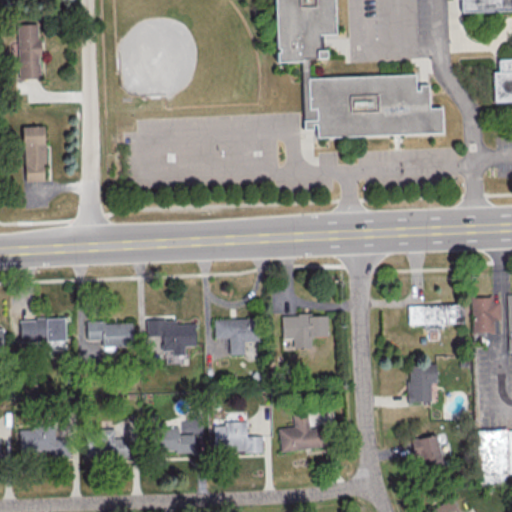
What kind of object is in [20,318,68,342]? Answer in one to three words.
house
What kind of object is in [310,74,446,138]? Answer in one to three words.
building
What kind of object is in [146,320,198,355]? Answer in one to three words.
house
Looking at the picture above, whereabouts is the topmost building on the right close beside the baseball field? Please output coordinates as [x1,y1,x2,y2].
[278,0,337,62]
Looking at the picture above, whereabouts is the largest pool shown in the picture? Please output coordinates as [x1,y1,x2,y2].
[443,390,469,422]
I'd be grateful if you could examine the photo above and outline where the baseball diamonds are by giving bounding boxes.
[114,0,262,110]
